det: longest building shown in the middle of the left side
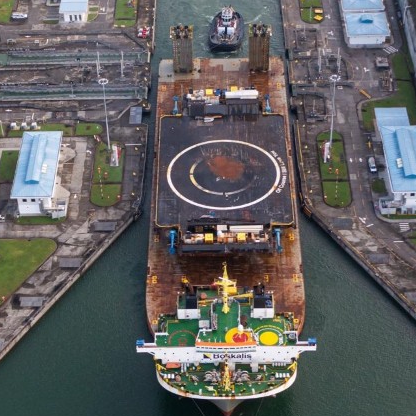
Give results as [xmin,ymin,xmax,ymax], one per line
[10,123,62,212]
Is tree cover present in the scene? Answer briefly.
No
